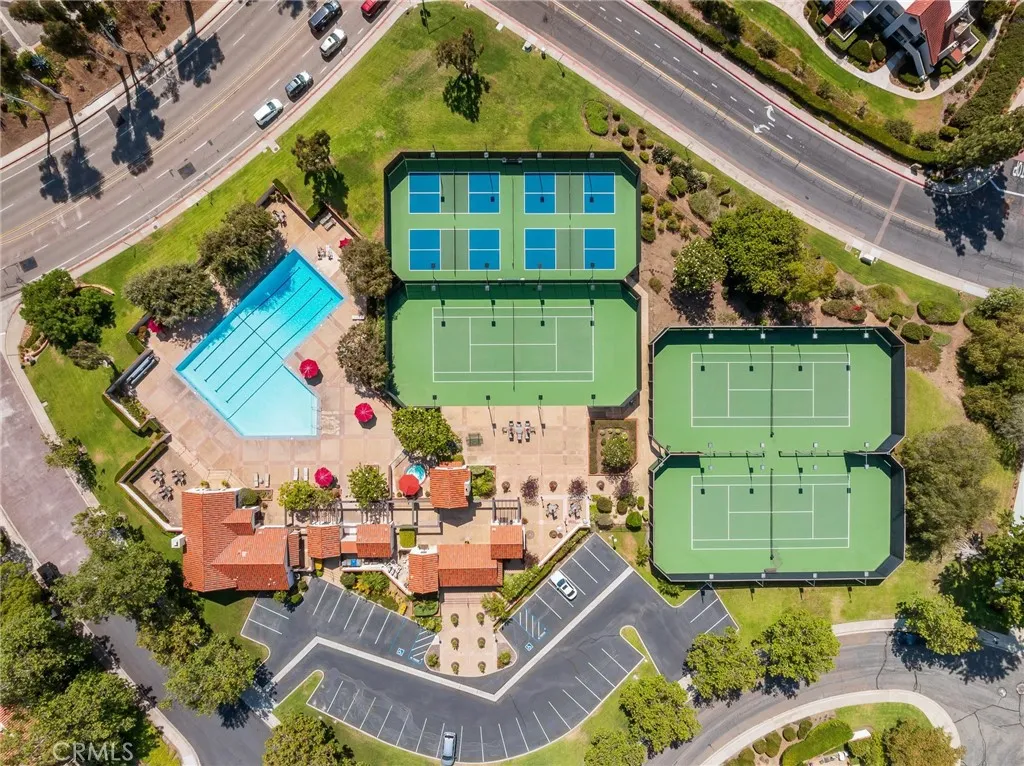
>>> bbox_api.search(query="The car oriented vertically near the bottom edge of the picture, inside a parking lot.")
[440,729,456,765]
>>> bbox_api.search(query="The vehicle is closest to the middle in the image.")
[550,569,578,601]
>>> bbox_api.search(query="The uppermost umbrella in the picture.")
[339,234,356,251]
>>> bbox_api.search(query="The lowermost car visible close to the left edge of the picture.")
[44,560,72,594]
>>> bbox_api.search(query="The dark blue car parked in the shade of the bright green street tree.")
[892,628,925,644]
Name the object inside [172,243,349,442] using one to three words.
swimming pool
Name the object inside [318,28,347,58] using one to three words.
car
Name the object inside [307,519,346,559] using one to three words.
shed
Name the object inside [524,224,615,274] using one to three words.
sports court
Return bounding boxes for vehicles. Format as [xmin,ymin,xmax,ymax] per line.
[308,1,341,34]
[44,560,72,594]
[360,0,388,17]
[550,569,578,601]
[892,628,925,644]
[440,729,456,765]
[283,72,314,101]
[252,99,283,127]
[318,28,347,58]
